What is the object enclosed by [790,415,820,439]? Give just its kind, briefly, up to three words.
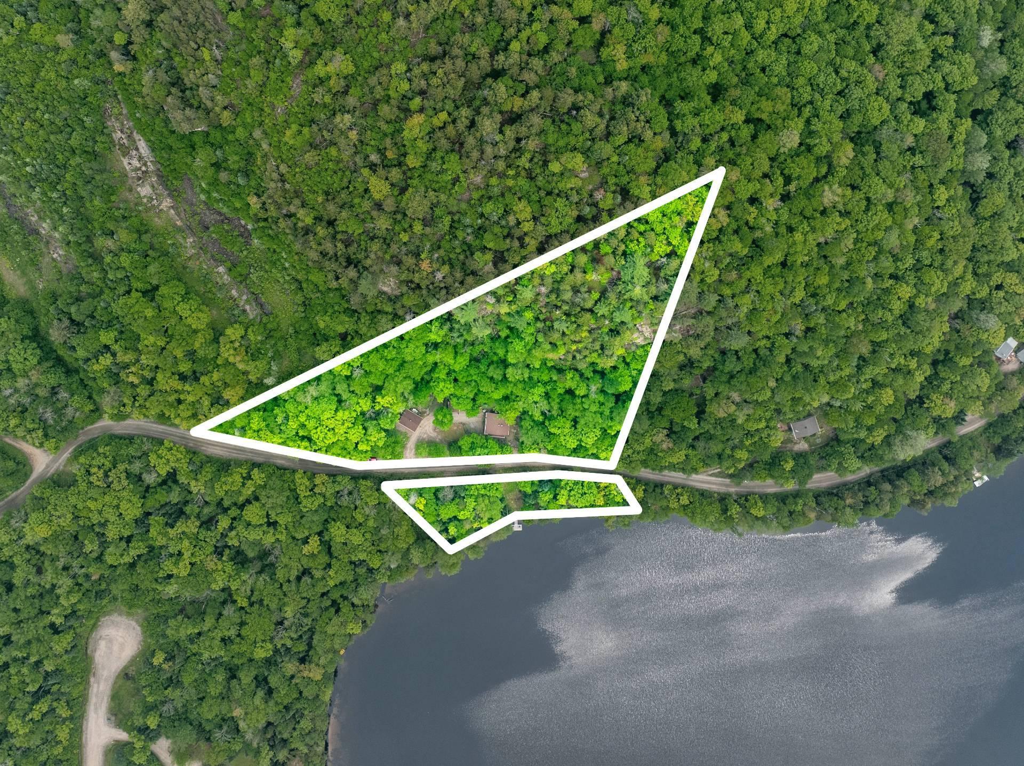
house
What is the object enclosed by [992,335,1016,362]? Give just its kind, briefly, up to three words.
house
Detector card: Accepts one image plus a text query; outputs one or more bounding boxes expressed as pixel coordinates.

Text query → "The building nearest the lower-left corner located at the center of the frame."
[399,409,423,432]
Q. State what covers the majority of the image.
trees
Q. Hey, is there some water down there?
Yes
